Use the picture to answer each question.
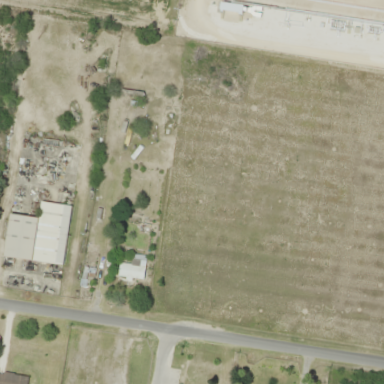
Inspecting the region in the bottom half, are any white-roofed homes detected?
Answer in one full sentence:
Yes, looking in the bottom half, one can make out a white-roofed home.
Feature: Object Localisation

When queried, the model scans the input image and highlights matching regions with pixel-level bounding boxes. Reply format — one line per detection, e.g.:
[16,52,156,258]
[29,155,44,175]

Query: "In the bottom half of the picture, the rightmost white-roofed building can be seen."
[118,254,147,282]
